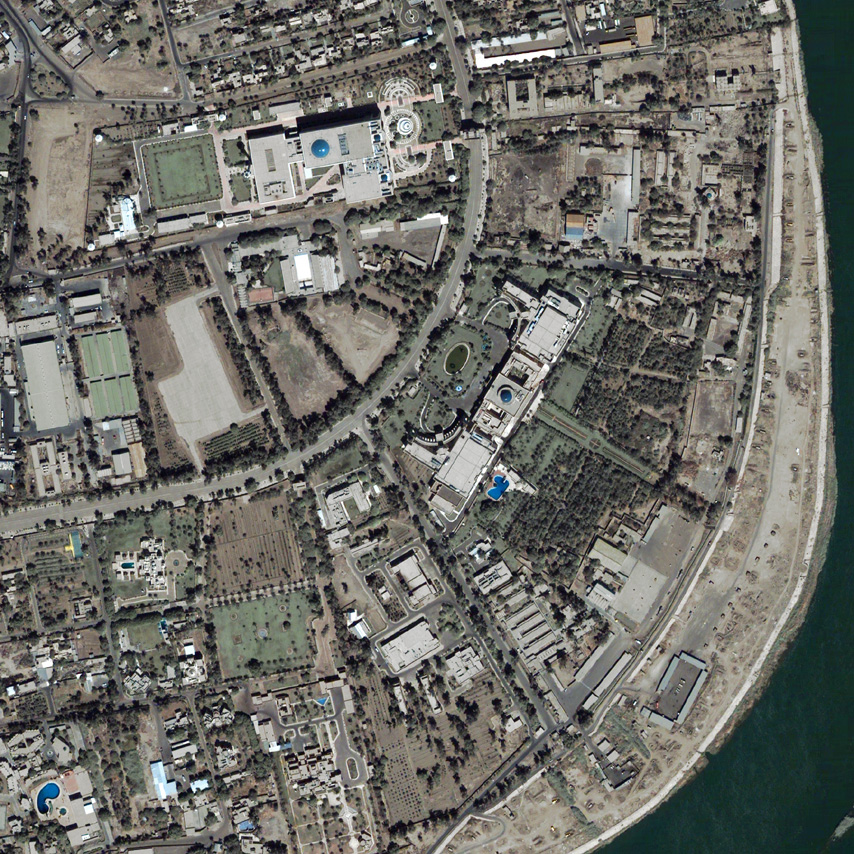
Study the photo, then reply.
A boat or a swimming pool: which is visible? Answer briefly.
swimming pool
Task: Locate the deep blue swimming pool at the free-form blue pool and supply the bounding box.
[488,475,510,500]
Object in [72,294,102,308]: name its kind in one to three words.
building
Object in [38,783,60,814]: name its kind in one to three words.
swimming pool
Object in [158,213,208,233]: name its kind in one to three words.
shed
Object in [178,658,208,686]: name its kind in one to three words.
house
